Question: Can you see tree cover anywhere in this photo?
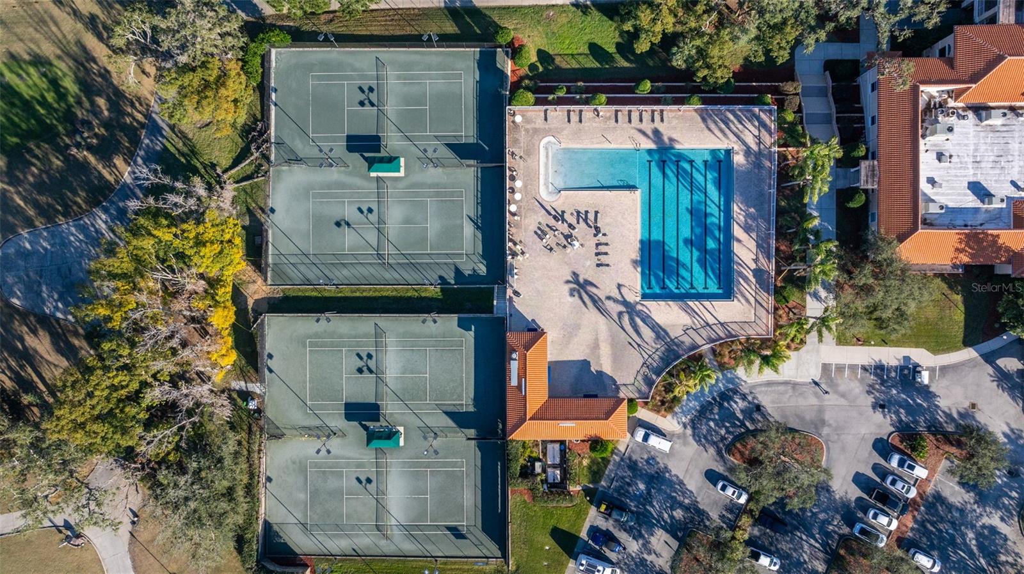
Yes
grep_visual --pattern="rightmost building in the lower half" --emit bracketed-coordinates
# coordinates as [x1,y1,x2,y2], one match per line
[506,327,628,441]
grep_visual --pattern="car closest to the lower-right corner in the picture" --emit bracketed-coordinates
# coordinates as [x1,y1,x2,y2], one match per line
[908,549,940,573]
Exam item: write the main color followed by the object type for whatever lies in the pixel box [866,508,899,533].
white car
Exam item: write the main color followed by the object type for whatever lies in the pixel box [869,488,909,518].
black truck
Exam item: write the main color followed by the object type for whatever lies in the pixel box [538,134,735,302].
blue swimming pool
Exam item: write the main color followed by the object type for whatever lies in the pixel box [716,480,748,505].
white car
